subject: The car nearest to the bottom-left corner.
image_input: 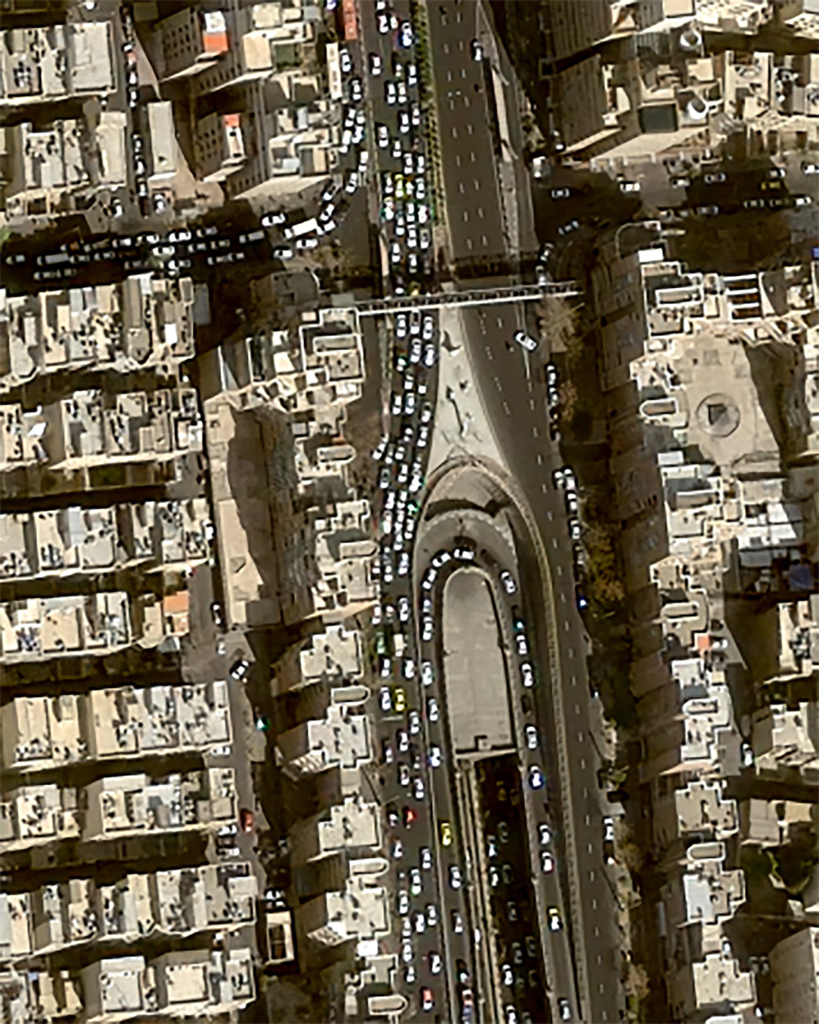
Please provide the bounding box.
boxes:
[212,932,225,946]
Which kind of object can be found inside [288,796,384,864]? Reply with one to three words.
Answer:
building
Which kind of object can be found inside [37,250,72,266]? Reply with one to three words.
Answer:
vehicle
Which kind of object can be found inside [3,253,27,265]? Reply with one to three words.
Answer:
vehicle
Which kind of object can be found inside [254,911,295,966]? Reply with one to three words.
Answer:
house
